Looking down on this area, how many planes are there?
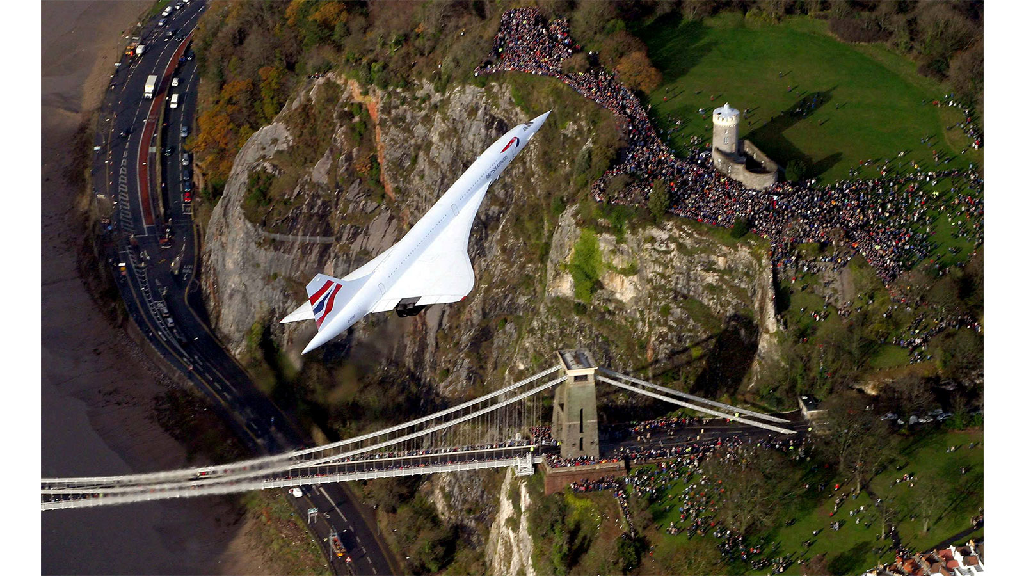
1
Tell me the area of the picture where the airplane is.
center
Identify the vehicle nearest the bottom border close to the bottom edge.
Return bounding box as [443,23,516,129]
[327,530,347,549]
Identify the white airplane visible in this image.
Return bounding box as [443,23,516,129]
[277,110,552,355]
